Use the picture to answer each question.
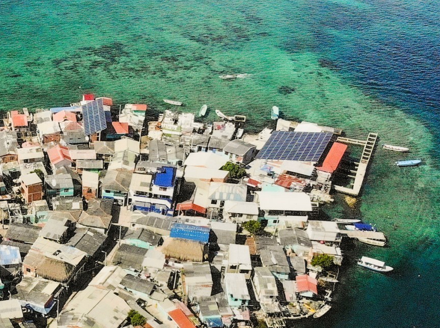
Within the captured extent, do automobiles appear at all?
No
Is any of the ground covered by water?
Yes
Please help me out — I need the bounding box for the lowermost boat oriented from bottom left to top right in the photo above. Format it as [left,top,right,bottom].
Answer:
[313,303,335,318]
